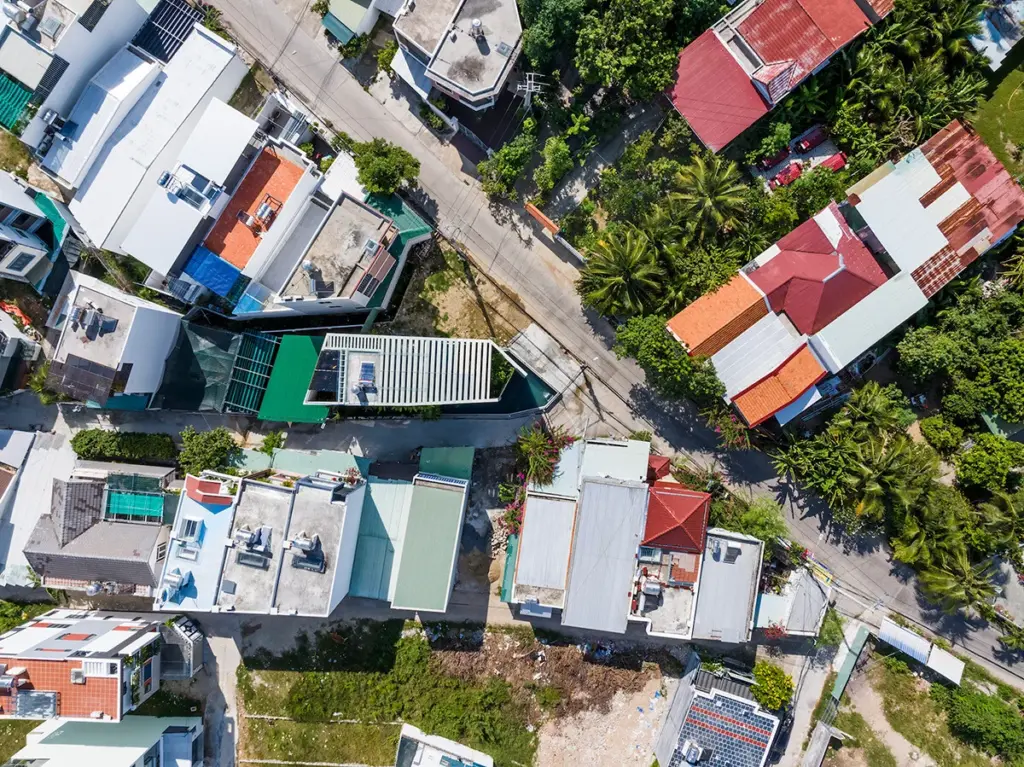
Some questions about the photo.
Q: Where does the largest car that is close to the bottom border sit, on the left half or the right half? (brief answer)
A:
right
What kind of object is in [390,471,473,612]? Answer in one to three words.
house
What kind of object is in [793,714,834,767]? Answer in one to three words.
shed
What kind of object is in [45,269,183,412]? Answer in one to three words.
house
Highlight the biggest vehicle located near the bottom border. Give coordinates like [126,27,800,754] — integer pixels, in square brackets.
[768,724,794,762]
